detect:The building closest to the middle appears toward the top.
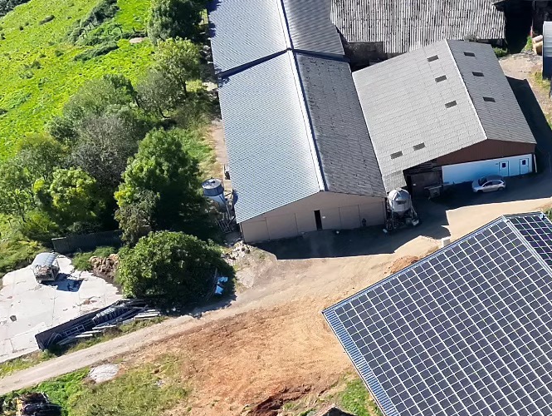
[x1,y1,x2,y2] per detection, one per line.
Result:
[217,51,385,243]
